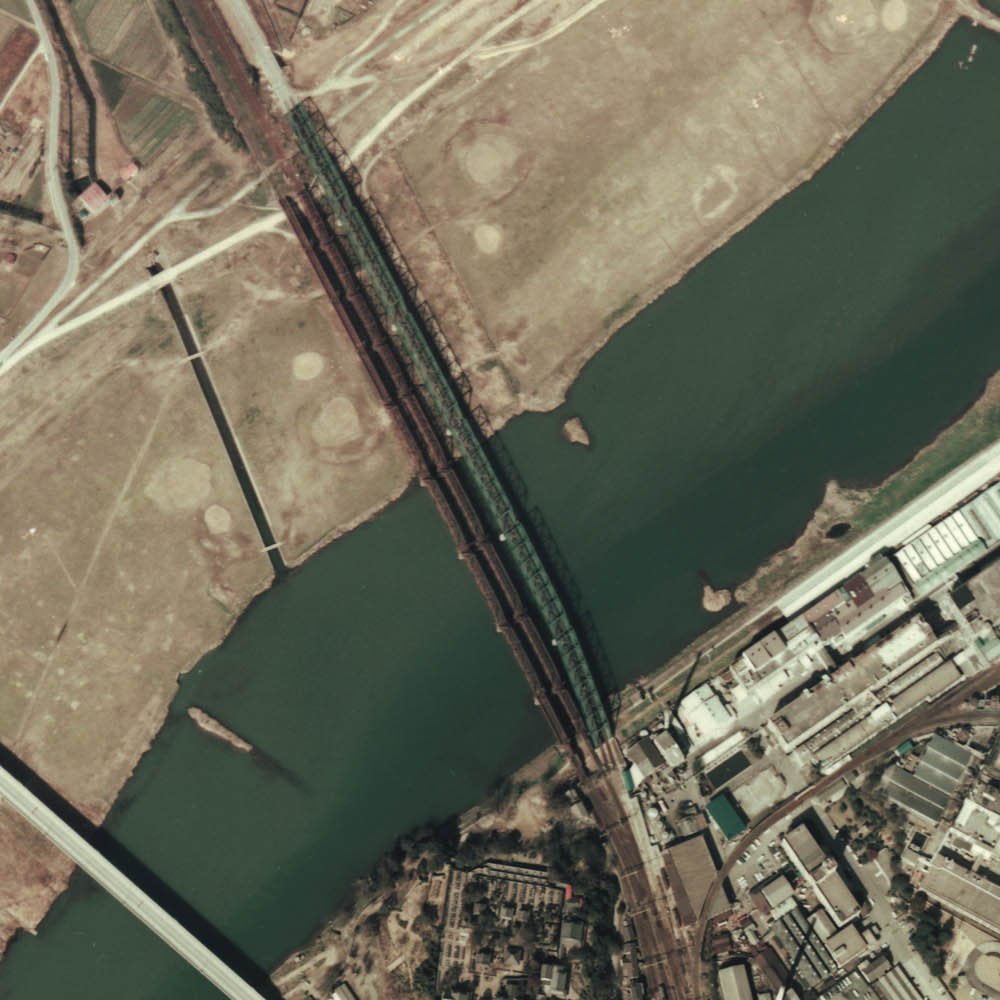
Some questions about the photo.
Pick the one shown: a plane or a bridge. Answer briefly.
bridge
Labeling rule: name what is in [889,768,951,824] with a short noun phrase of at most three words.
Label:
building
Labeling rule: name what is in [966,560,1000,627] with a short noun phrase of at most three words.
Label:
building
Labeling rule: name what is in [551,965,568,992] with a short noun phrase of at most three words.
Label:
house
